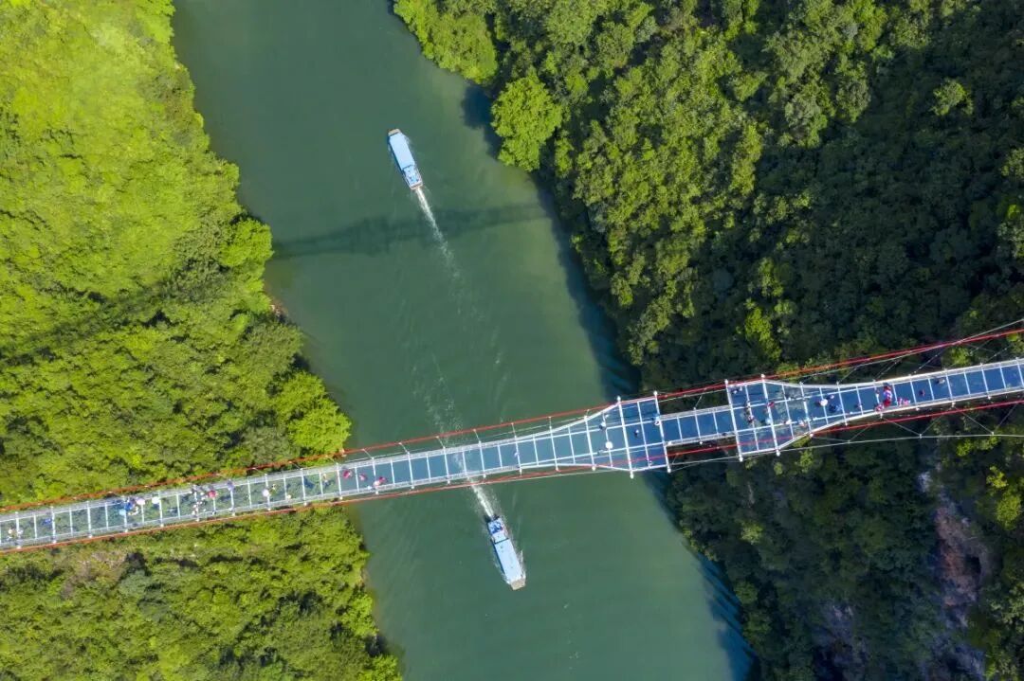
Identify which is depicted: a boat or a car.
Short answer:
boat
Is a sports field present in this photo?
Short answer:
No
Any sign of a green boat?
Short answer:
No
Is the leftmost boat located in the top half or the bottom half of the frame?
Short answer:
top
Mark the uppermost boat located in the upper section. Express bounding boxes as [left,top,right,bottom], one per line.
[390,129,425,193]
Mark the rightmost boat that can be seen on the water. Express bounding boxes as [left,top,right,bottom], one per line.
[484,514,526,590]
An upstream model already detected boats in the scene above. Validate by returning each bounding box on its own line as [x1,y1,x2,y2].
[390,129,425,193]
[484,514,526,590]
